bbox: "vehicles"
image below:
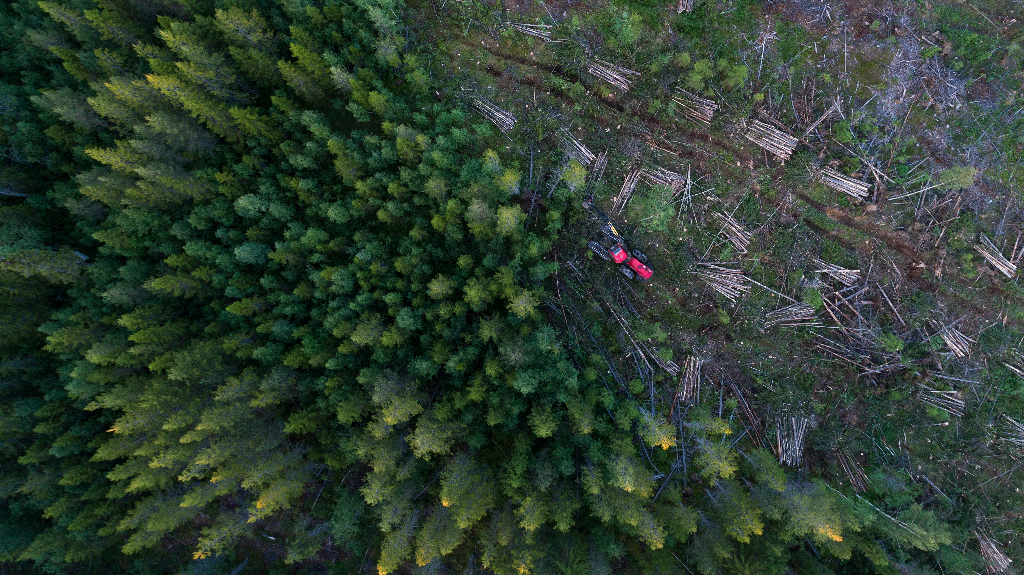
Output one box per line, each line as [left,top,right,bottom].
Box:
[582,194,654,281]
